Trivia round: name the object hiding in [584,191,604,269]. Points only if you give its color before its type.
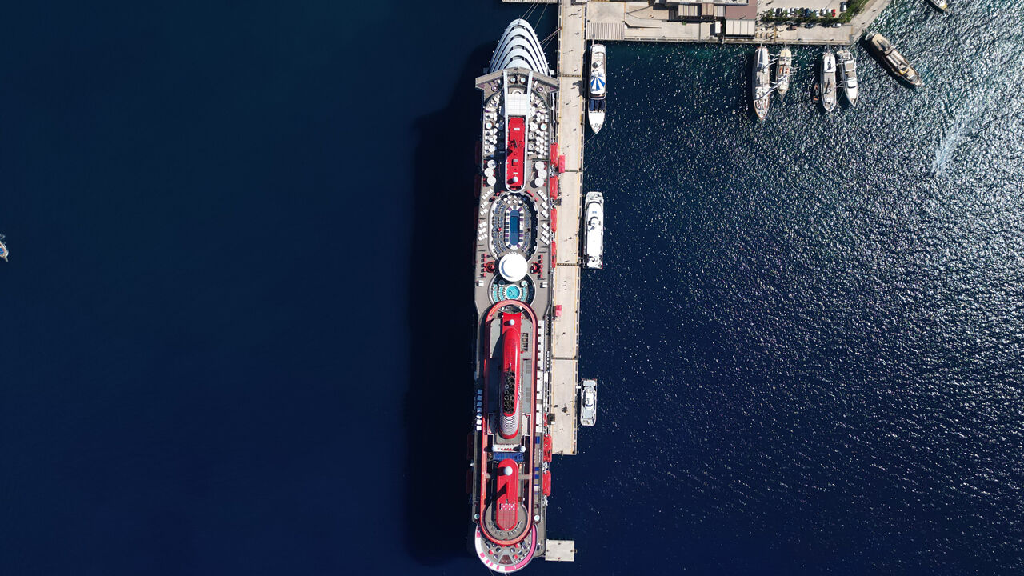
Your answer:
white ship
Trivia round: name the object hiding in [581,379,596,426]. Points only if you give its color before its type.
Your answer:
white boat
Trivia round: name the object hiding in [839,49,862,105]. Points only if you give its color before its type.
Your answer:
white boat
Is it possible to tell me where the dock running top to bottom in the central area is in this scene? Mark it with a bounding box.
[549,0,588,455]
